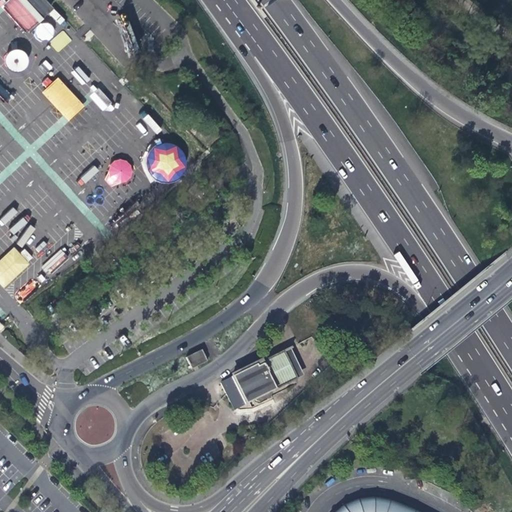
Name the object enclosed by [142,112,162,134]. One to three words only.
truck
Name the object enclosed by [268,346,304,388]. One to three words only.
building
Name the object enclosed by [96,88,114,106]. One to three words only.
vehicle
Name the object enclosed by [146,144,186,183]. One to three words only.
tent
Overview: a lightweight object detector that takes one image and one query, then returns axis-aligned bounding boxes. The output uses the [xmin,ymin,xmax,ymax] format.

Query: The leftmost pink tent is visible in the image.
[105,159,134,187]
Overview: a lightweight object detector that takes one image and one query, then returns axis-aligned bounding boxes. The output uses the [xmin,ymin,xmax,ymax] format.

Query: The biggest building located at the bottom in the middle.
[221,358,278,409]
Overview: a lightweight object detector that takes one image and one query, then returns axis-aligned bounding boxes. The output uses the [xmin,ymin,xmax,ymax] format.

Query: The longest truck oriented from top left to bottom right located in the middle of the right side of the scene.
[394,252,422,289]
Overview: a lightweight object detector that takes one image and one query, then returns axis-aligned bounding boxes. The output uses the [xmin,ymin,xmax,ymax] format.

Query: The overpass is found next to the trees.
[216,246,512,512]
